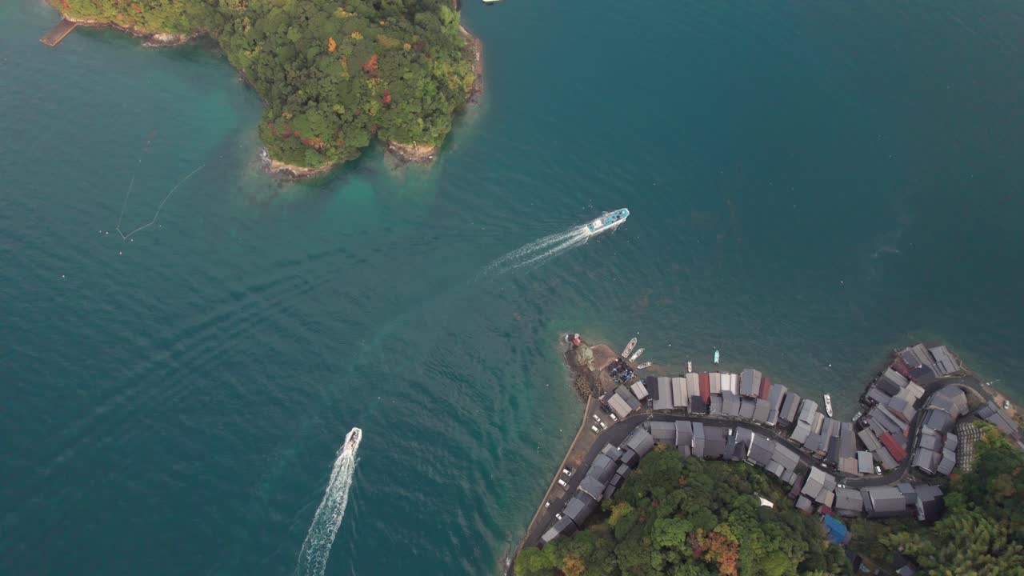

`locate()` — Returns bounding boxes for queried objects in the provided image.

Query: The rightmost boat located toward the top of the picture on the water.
[585,207,630,234]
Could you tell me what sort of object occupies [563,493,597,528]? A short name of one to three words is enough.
house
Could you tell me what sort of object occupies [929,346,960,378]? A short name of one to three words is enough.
building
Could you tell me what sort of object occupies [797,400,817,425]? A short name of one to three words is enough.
building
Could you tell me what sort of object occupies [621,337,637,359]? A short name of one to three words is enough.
boat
